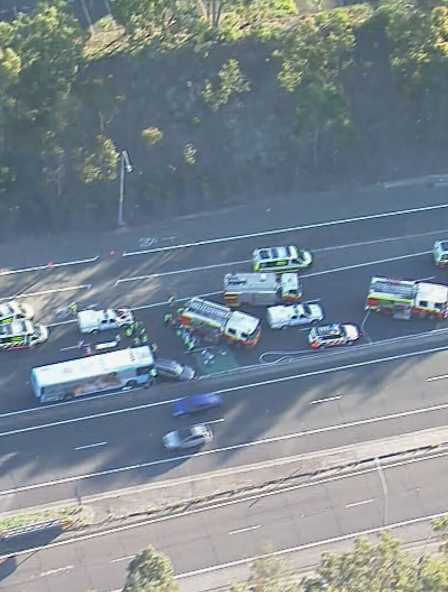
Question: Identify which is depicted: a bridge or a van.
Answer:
van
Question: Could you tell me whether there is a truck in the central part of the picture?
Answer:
Yes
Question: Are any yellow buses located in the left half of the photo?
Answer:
No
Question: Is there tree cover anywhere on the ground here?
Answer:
Yes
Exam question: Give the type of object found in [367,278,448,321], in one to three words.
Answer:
truck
